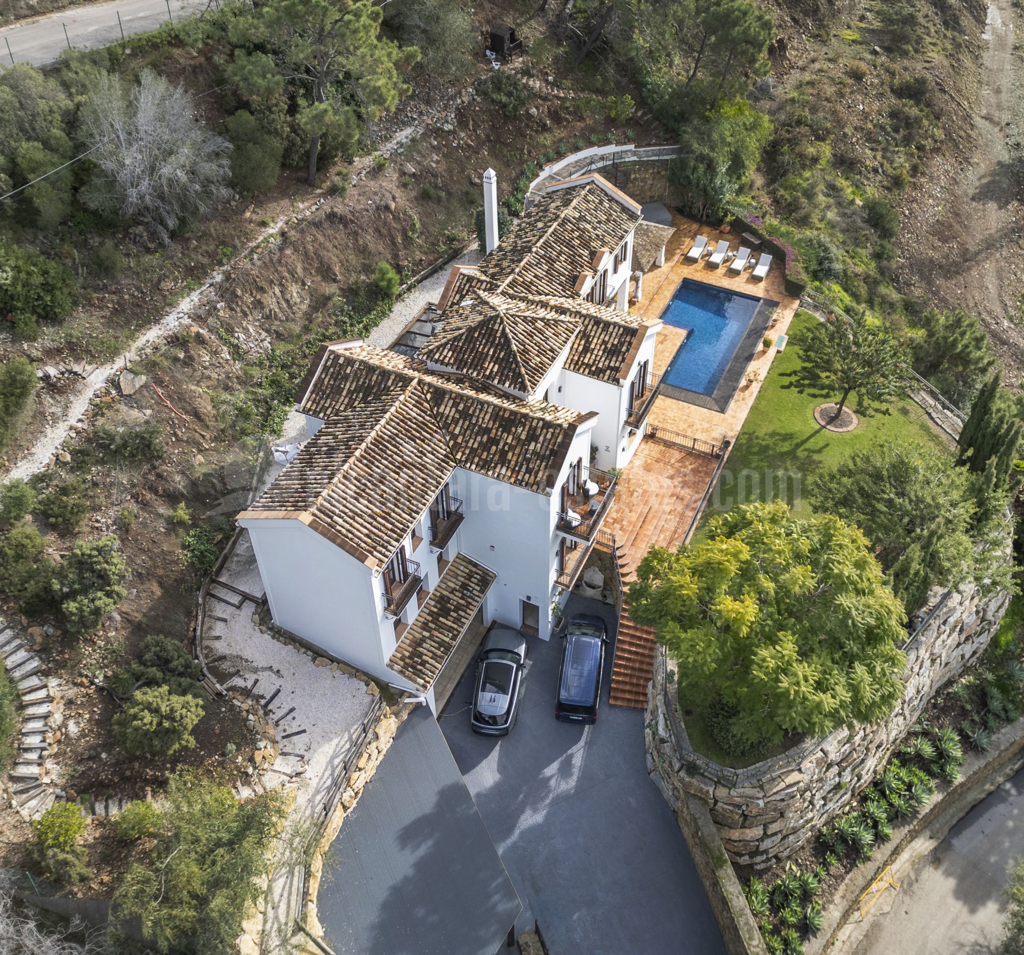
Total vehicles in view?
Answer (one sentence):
I count 2 vehicles.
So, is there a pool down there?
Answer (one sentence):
Yes, the frame does contain a pool.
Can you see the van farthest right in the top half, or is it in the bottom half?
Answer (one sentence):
It is in the bottom half that the van farthest right appears.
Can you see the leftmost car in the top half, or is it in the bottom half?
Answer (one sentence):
You can find the leftmost car in the bottom half.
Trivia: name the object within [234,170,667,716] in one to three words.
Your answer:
house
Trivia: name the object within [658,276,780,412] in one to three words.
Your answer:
swimming pool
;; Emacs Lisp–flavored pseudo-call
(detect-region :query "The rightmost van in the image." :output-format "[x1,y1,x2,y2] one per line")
[553,618,612,728]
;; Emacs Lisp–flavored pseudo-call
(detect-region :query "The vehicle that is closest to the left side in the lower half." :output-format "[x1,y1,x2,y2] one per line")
[469,631,529,738]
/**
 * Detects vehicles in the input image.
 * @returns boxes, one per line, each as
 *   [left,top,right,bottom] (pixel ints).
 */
[553,618,612,728]
[469,631,529,738]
